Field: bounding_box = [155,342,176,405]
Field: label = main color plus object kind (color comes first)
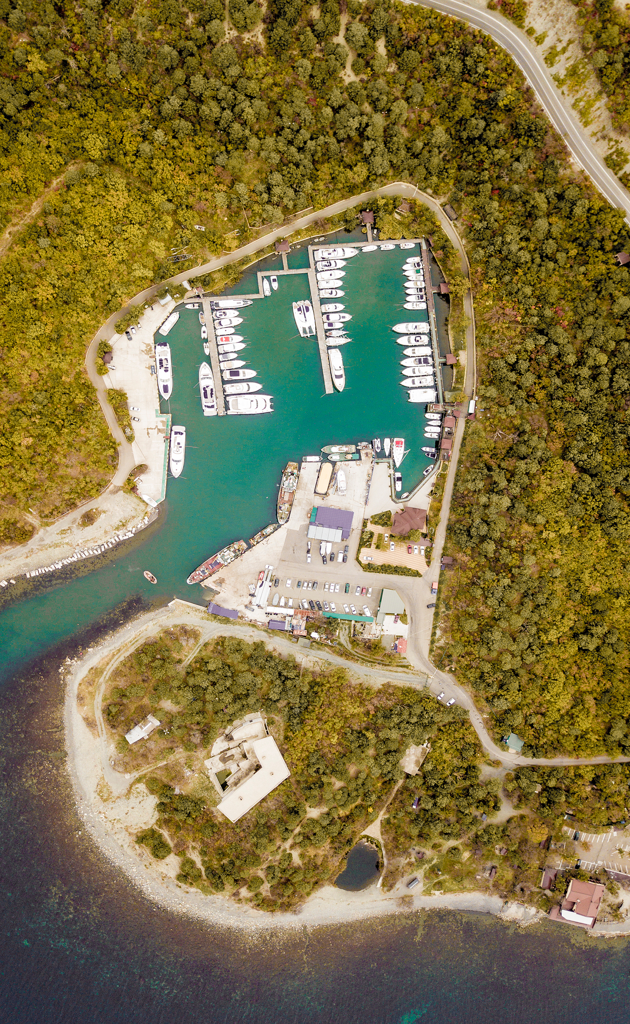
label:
white boat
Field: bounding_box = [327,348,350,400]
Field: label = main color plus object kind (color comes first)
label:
white boat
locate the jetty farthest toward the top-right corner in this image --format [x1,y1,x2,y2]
[421,249,435,313]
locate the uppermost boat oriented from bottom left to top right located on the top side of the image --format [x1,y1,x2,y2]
[157,312,183,336]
